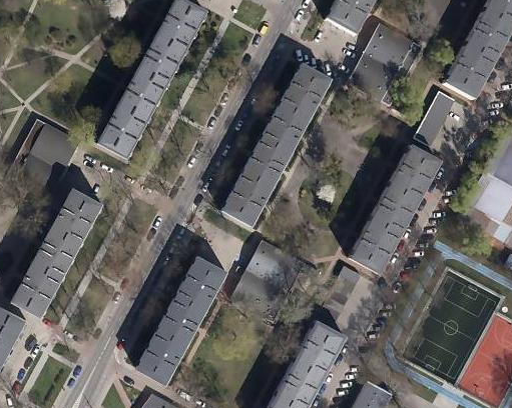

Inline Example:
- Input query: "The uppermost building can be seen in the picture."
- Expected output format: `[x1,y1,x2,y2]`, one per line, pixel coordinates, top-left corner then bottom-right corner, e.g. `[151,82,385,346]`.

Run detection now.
[327,0,378,37]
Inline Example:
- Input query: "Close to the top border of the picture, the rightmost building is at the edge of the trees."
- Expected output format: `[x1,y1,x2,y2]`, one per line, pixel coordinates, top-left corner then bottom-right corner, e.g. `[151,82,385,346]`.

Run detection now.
[444,0,512,102]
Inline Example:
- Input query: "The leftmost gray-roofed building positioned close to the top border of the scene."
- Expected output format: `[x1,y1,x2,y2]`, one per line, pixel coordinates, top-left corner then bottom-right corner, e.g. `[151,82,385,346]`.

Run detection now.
[97,0,208,163]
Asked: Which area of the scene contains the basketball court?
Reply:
bottom right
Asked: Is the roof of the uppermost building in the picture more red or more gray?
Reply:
gray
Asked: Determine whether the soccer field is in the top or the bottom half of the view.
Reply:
bottom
